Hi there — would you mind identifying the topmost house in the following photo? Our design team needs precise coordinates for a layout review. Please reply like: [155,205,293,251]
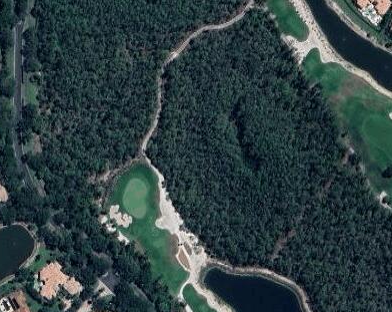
[353,0,392,17]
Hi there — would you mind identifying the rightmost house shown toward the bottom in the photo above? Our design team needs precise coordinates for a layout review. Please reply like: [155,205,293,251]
[37,259,84,302]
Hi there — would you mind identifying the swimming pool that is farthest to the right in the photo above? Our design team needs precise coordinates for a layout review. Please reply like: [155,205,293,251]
[364,4,382,25]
